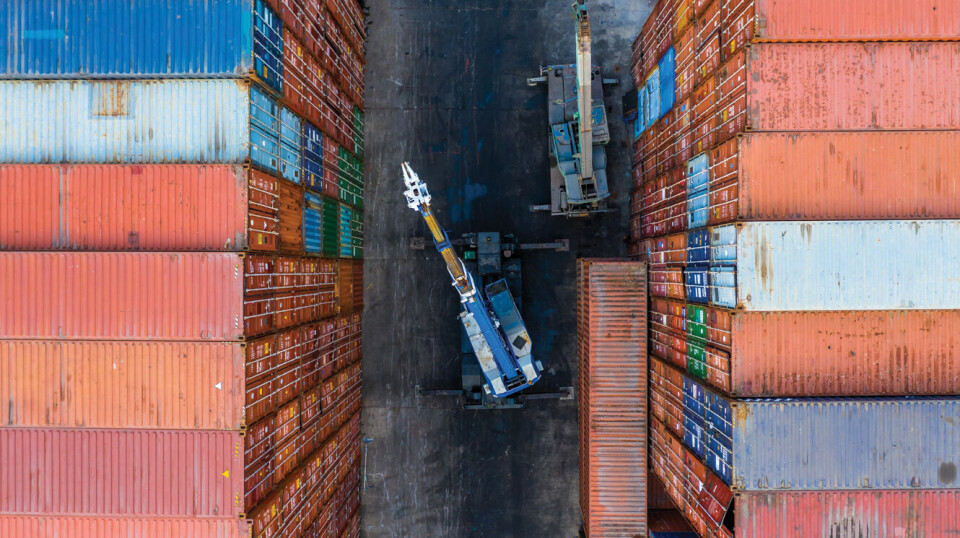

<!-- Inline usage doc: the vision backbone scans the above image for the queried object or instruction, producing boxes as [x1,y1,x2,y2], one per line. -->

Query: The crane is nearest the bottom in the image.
[397,165,574,409]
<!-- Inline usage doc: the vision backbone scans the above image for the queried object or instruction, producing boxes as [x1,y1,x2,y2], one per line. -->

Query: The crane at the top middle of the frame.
[523,0,622,222]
